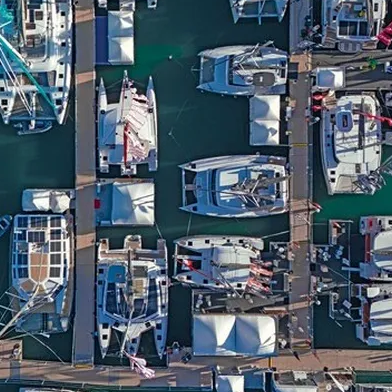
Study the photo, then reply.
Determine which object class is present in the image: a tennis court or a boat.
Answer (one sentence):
It is a boat that can be seen here.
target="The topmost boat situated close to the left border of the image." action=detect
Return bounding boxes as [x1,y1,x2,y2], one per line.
[0,0,78,126]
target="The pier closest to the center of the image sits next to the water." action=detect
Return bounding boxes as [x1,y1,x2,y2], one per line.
[95,182,157,227]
